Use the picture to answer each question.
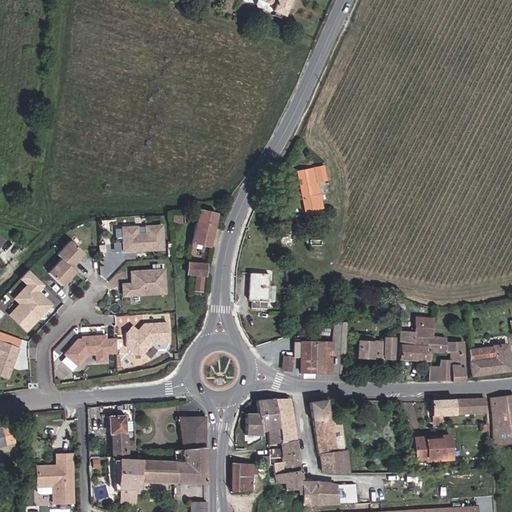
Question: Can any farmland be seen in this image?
Yes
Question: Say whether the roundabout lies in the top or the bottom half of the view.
bottom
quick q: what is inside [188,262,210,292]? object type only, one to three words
house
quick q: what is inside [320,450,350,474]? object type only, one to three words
barn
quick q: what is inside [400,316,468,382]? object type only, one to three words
house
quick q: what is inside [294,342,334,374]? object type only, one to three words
barn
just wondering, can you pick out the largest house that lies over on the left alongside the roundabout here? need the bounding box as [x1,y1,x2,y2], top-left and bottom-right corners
[120,448,209,504]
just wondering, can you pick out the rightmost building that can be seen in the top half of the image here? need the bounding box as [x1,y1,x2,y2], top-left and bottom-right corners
[298,166,328,212]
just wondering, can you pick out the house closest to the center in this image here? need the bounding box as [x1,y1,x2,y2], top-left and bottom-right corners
[250,270,276,302]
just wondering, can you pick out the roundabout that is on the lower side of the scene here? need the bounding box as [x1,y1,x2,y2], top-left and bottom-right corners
[168,307,280,426]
